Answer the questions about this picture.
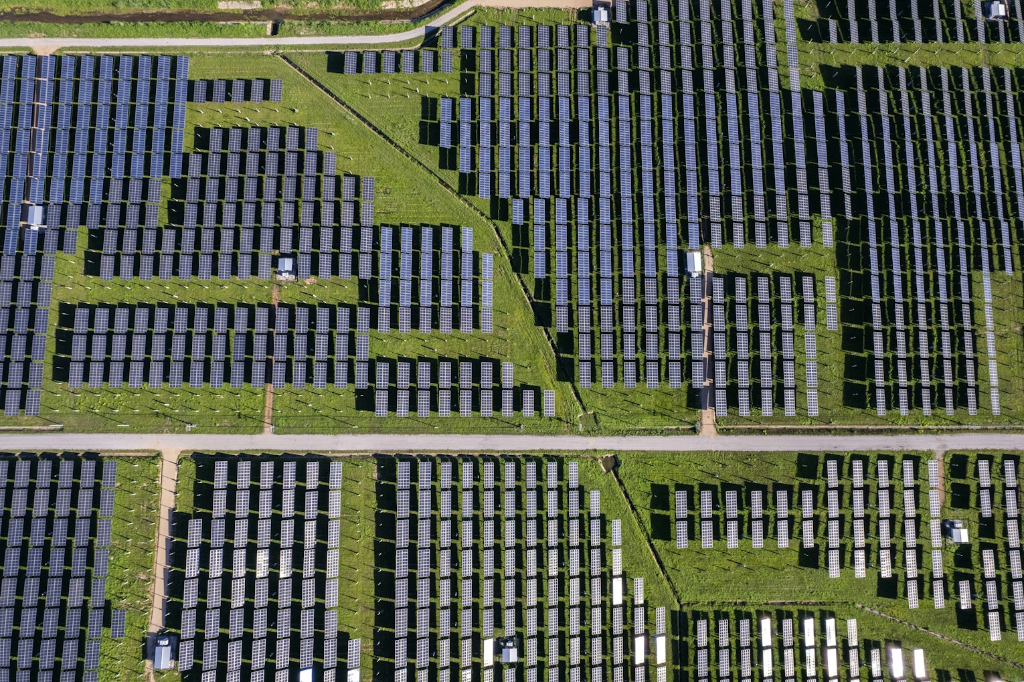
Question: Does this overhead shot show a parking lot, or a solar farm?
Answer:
solar farm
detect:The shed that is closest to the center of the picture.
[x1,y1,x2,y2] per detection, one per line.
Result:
[685,252,701,273]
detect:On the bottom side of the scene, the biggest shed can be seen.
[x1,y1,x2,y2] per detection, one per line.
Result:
[154,643,175,670]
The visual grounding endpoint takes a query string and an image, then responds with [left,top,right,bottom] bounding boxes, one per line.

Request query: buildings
[502,645,517,663]
[947,528,968,543]
[278,258,294,271]
[28,206,45,226]
[593,9,607,25]
[685,252,701,273]
[154,643,175,670]
[985,4,1005,20]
